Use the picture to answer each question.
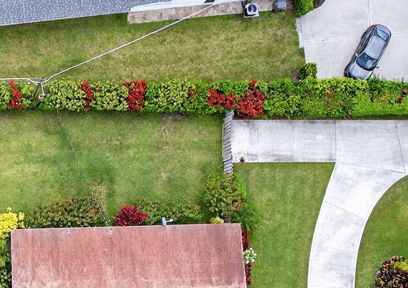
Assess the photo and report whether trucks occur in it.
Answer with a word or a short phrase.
No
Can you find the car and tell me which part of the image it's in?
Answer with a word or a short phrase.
top right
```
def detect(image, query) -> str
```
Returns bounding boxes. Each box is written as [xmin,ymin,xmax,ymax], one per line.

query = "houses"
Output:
[0,0,270,26]
[10,217,247,288]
